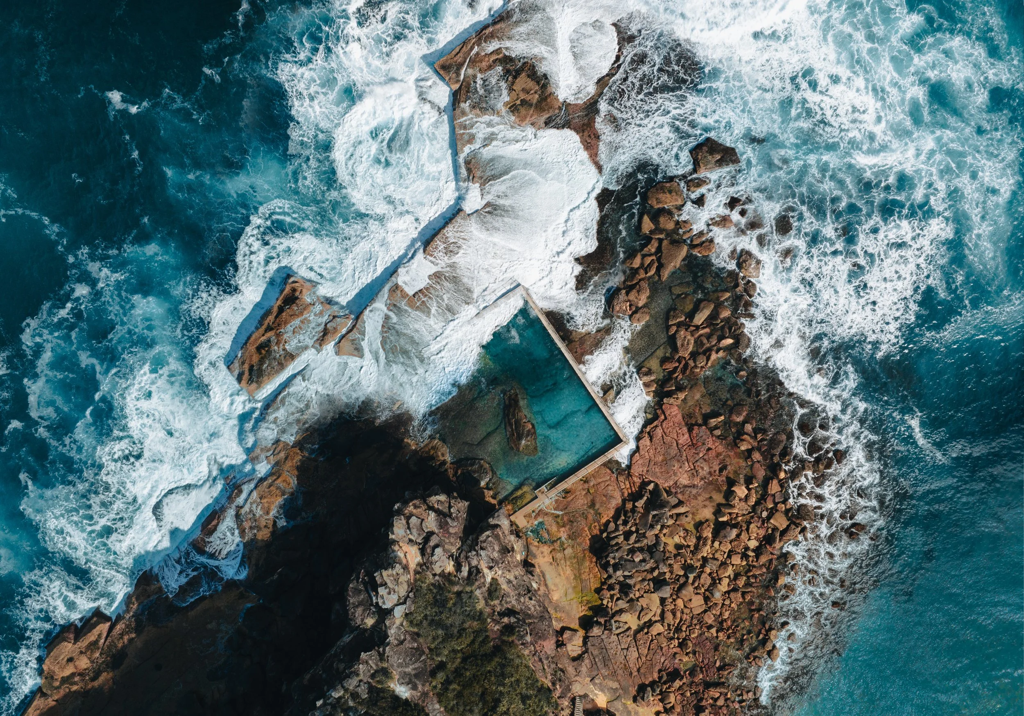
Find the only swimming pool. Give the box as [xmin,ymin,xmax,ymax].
[432,293,620,508]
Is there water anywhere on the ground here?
Yes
